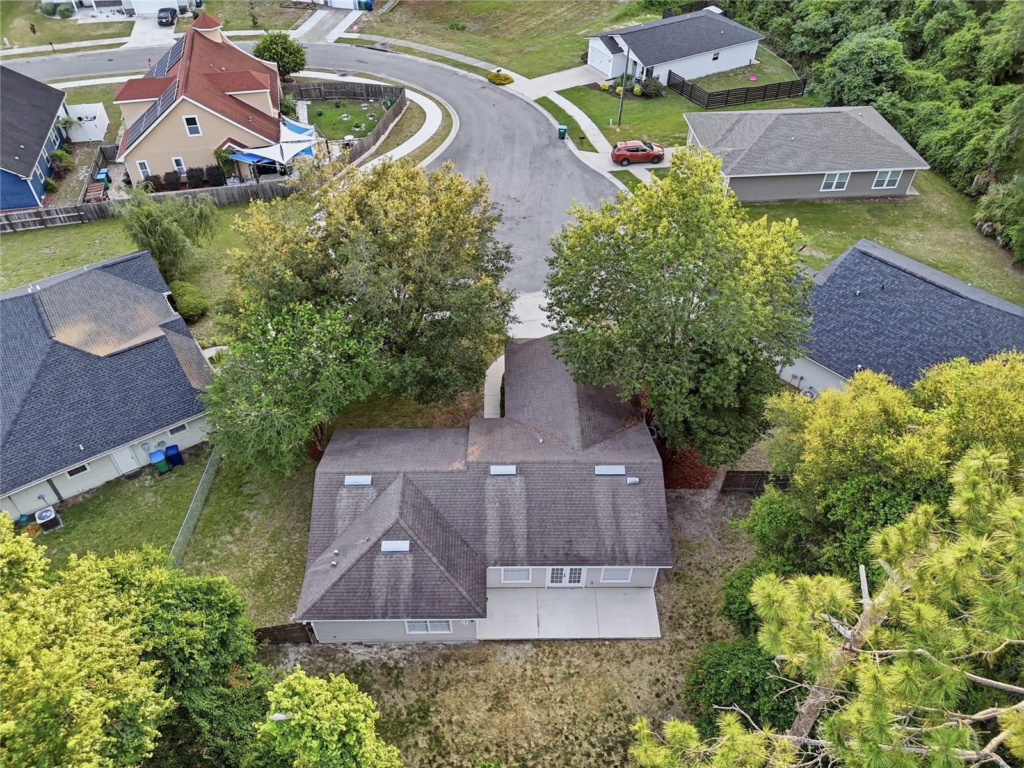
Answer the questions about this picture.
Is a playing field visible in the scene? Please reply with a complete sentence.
No, the frame has no playing field in it.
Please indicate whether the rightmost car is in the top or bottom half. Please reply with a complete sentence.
You can find the rightmost car in the top half.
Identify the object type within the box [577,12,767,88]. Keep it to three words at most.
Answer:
house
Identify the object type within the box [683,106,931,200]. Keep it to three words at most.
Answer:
house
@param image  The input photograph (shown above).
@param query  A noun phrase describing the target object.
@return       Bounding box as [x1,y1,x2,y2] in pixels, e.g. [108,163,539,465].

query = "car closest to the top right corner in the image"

[614,140,665,165]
